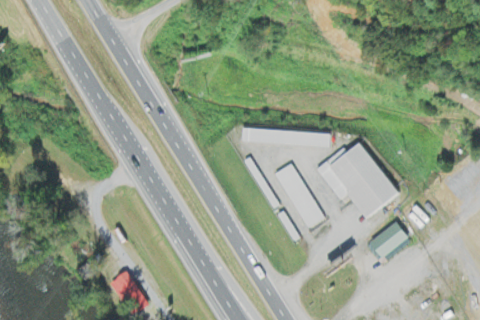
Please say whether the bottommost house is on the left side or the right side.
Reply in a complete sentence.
You can find the bottommost house on the left side of the picture.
